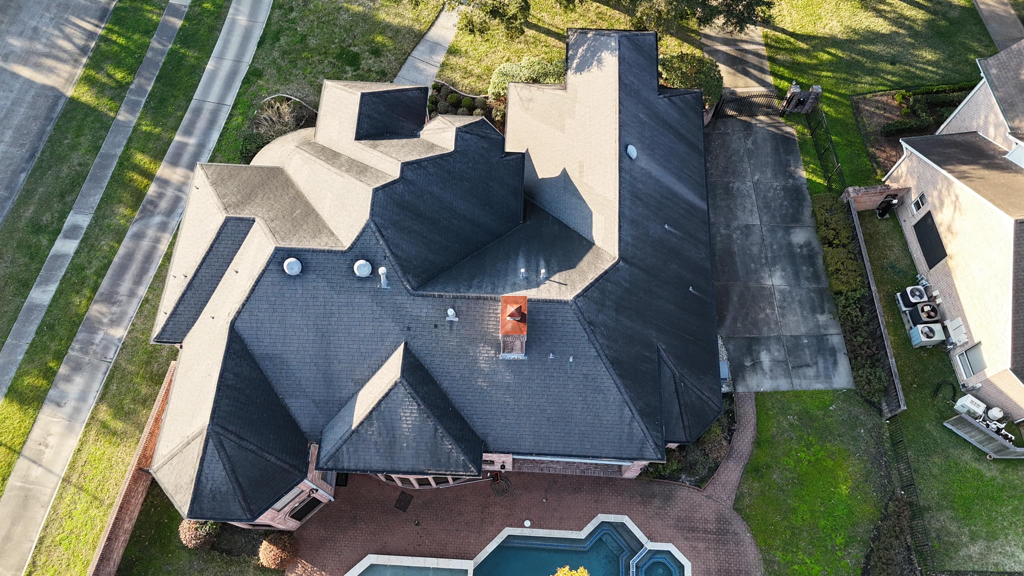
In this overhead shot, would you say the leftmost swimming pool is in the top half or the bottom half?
bottom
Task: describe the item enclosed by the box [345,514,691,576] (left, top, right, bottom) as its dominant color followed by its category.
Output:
blue swimming pool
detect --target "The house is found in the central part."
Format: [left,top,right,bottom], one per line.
[146,26,725,531]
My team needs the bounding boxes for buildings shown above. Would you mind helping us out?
[146,26,725,531]
[881,52,1024,429]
